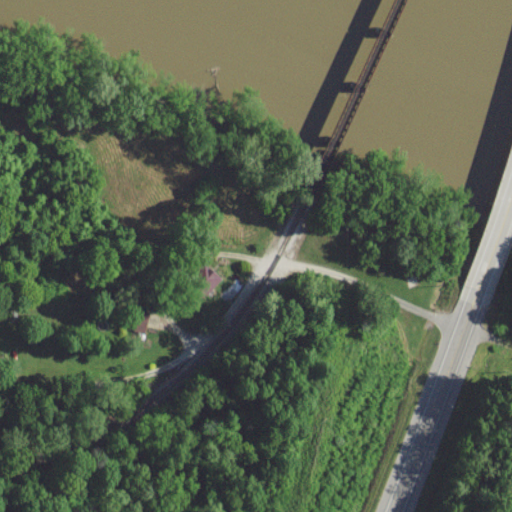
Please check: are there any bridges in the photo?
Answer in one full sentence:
Yes, the photo shows a bridge.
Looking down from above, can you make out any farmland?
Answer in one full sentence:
No, the scene doesn't show any farmland.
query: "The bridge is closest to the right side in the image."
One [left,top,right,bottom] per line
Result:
[472,146,512,260]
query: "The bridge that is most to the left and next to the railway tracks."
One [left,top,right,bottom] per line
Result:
[321,0,408,168]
